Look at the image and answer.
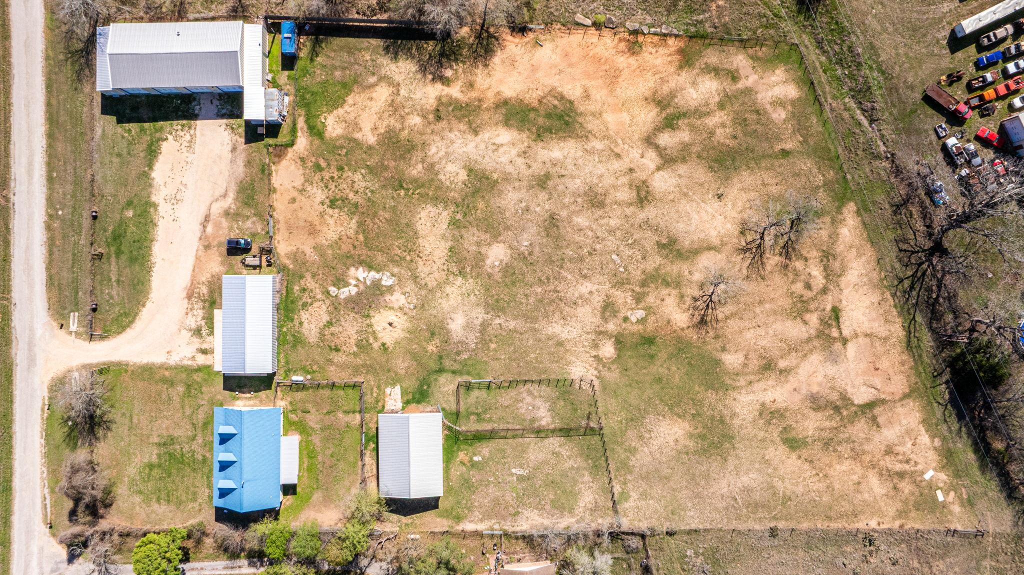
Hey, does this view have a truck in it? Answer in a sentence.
Yes, the photo shows a truck.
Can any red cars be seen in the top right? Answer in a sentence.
Yes, a red car shows up in the top right.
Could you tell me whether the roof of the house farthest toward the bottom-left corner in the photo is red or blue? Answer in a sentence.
From above, the roof of the house farthest toward the bottom-left corner appears blue.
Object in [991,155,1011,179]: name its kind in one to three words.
vehicle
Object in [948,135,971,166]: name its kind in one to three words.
truck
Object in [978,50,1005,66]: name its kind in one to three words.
car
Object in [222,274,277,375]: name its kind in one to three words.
shed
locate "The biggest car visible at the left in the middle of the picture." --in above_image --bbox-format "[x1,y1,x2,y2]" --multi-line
[225,238,251,250]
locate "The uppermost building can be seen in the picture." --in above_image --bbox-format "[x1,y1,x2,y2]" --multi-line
[95,21,268,122]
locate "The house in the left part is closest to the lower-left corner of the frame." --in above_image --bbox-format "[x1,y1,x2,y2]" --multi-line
[212,405,298,512]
